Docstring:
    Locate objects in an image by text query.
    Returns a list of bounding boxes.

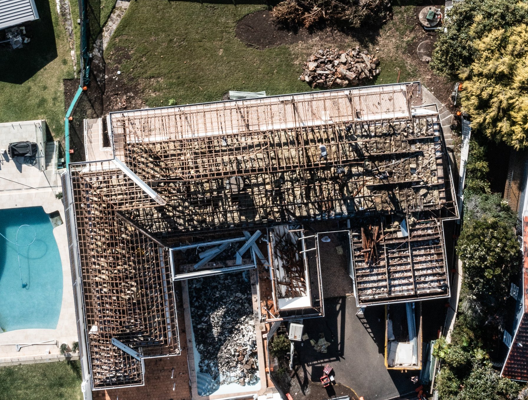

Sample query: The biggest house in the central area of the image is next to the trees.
[67,80,461,396]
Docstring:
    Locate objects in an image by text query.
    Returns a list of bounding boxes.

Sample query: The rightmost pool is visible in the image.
[189,271,260,397]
